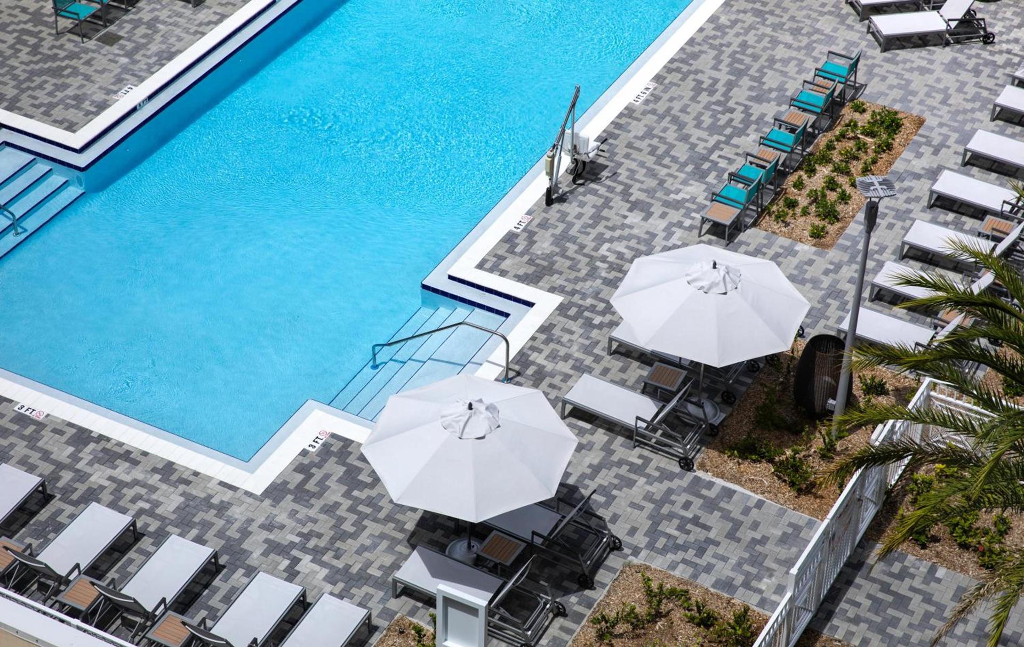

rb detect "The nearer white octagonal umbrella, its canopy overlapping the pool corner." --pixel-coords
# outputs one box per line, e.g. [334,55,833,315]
[359,375,581,565]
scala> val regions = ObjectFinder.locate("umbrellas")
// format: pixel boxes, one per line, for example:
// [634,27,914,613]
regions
[359,375,581,565]
[608,244,811,416]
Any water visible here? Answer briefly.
Yes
